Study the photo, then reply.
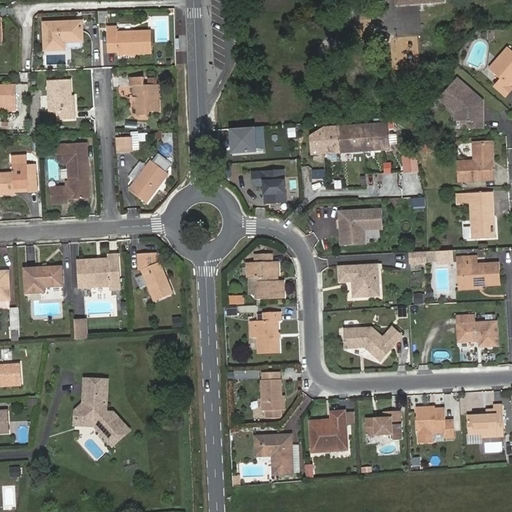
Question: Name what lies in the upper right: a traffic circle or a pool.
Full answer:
Looking in the upper right, you will find a pool.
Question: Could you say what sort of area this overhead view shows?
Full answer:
The picture captures a residential area.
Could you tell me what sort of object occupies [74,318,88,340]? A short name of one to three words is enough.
building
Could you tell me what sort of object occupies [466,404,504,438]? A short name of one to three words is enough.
house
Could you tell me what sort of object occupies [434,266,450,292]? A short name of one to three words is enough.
swimming pool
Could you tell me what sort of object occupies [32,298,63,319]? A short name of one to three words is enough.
swimming pool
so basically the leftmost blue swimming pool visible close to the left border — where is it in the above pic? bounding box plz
[14,424,28,444]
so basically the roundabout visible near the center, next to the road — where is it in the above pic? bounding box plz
[164,183,242,261]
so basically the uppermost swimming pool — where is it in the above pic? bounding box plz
[154,18,168,41]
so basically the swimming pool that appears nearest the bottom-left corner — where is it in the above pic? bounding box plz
[2,486,14,510]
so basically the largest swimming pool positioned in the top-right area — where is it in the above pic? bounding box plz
[464,40,489,68]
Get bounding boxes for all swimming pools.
[46,54,65,64]
[84,438,103,457]
[289,179,297,190]
[378,444,396,454]
[484,442,503,454]
[241,464,264,477]
[464,40,489,68]
[154,18,168,41]
[2,486,14,510]
[14,424,28,444]
[429,454,441,466]
[32,298,63,319]
[46,158,60,182]
[86,300,112,314]
[430,348,452,362]
[434,266,450,292]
